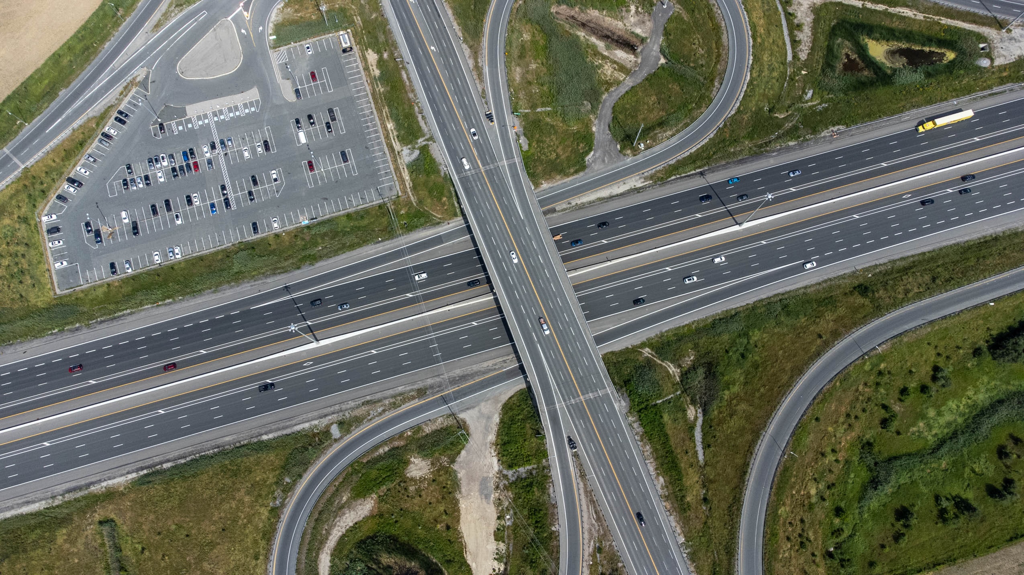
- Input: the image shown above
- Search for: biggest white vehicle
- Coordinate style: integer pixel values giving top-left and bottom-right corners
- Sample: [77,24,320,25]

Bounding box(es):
[918,108,976,130]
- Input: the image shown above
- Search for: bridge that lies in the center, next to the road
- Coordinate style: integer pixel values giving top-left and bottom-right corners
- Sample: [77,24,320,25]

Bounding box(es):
[449,160,618,411]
